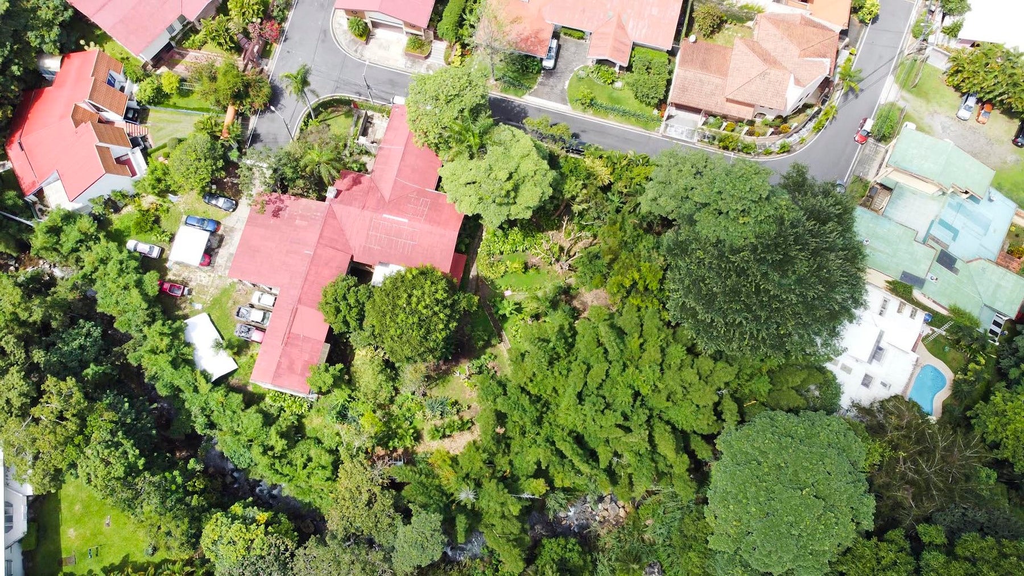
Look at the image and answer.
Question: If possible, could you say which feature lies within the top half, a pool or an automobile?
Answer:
automobile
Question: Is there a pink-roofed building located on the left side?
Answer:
Yes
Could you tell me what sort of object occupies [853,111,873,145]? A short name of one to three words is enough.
car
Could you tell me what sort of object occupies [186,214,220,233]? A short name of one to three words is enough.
car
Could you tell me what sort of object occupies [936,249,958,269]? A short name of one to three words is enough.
solar panel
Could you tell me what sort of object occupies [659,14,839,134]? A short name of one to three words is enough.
house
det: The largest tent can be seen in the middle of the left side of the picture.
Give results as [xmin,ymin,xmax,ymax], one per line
[185,313,243,380]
